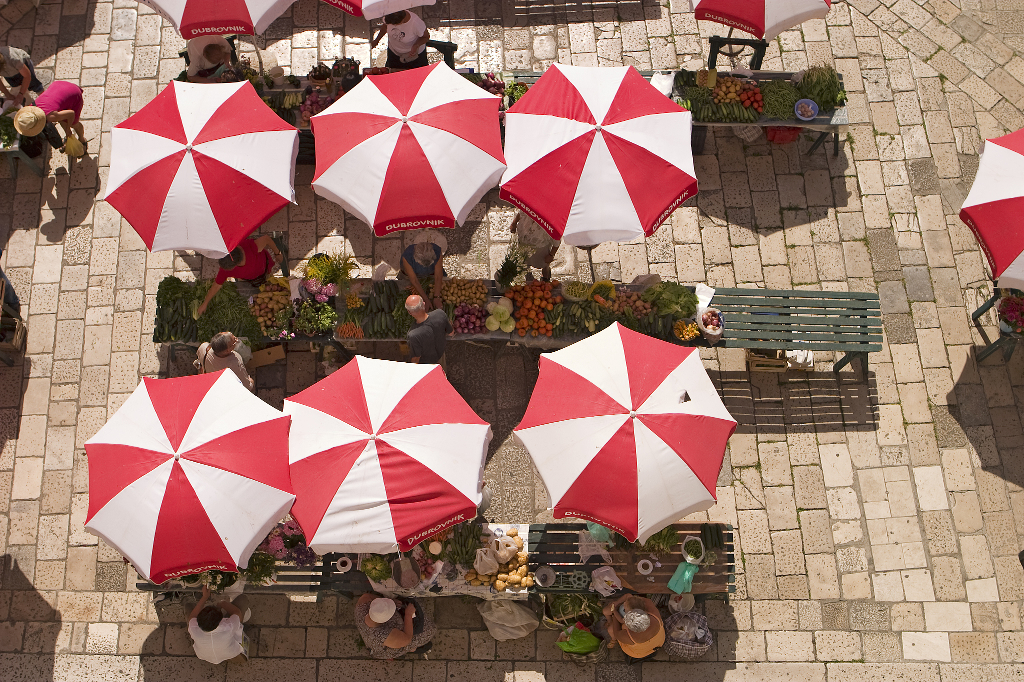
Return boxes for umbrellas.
[684,0,835,56]
[497,62,698,253]
[308,59,508,247]
[283,354,492,553]
[83,368,296,585]
[957,123,1024,293]
[336,0,438,67]
[103,79,300,259]
[126,0,295,77]
[512,319,738,544]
